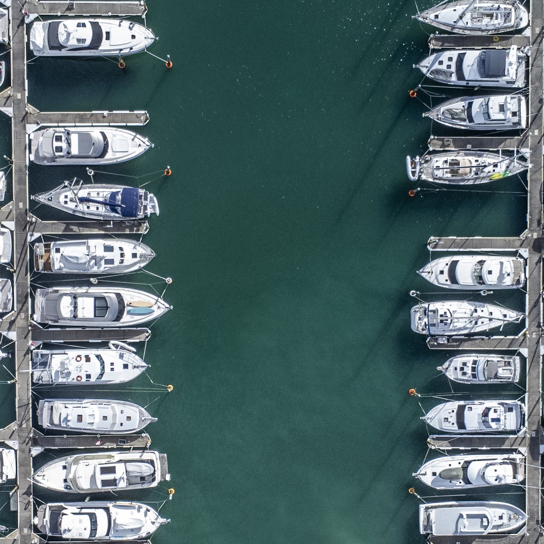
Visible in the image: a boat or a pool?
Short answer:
boat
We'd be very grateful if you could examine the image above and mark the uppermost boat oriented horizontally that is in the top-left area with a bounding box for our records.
[31,18,160,60]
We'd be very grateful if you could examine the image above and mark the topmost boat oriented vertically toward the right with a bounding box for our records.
[406,152,420,180]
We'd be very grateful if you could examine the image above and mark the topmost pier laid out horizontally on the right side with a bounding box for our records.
[427,25,530,59]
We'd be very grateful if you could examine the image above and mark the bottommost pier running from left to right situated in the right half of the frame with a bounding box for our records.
[426,524,526,544]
